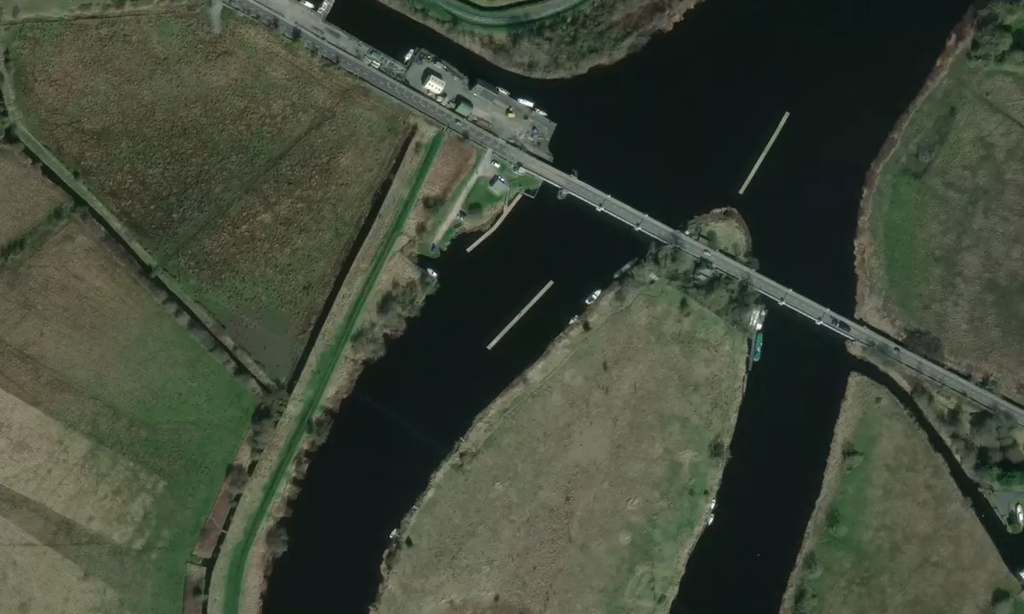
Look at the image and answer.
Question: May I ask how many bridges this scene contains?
2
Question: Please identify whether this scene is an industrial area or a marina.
marina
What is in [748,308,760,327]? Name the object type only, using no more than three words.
boat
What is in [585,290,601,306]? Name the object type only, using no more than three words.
boat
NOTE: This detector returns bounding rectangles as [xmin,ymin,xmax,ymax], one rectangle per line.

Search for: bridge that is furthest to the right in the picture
[750,272,863,342]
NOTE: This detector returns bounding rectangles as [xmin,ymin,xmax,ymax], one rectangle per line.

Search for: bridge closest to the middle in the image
[526,156,677,245]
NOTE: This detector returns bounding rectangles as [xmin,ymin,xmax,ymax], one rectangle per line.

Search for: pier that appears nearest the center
[487,281,553,349]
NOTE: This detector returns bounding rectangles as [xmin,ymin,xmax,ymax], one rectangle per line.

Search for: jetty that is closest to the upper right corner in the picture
[740,112,789,194]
